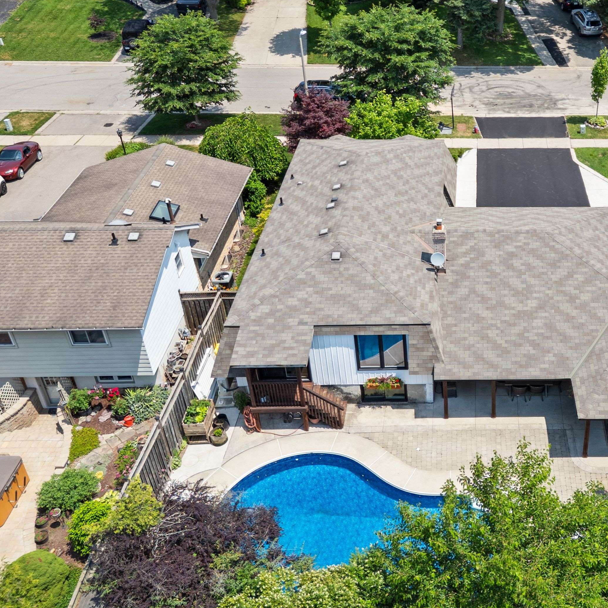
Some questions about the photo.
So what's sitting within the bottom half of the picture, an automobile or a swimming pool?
swimming pool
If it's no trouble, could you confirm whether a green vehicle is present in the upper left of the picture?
No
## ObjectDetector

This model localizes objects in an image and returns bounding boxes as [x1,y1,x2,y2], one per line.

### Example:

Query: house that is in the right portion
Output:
[212,131,608,458]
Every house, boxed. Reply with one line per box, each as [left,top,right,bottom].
[212,131,608,458]
[0,145,251,402]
